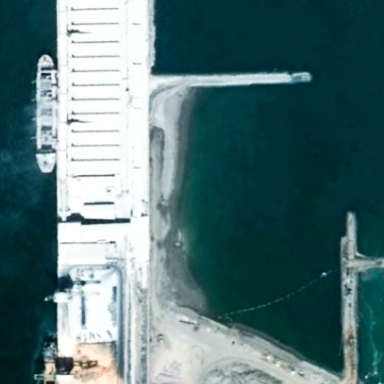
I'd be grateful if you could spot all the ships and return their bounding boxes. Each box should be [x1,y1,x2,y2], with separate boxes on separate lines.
[44,342,56,384]
[34,54,56,173]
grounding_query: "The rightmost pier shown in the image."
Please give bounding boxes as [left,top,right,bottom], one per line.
[340,212,384,383]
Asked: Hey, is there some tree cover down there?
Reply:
No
